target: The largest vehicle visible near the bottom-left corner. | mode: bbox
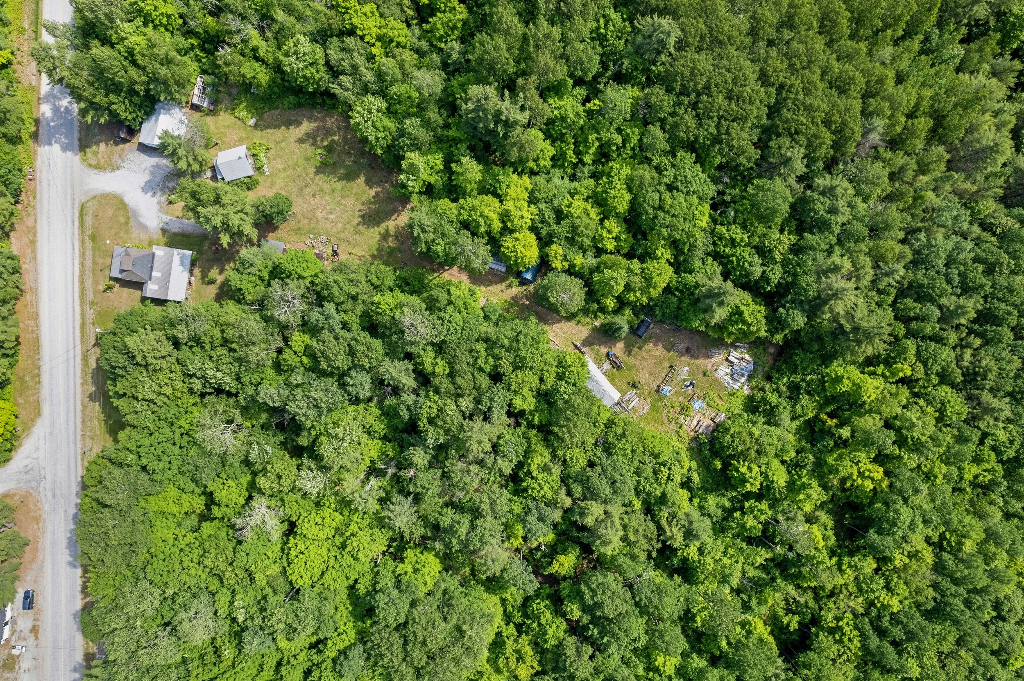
[21,590,34,612]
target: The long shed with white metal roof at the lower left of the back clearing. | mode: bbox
[582,355,621,408]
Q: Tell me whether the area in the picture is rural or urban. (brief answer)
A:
rural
